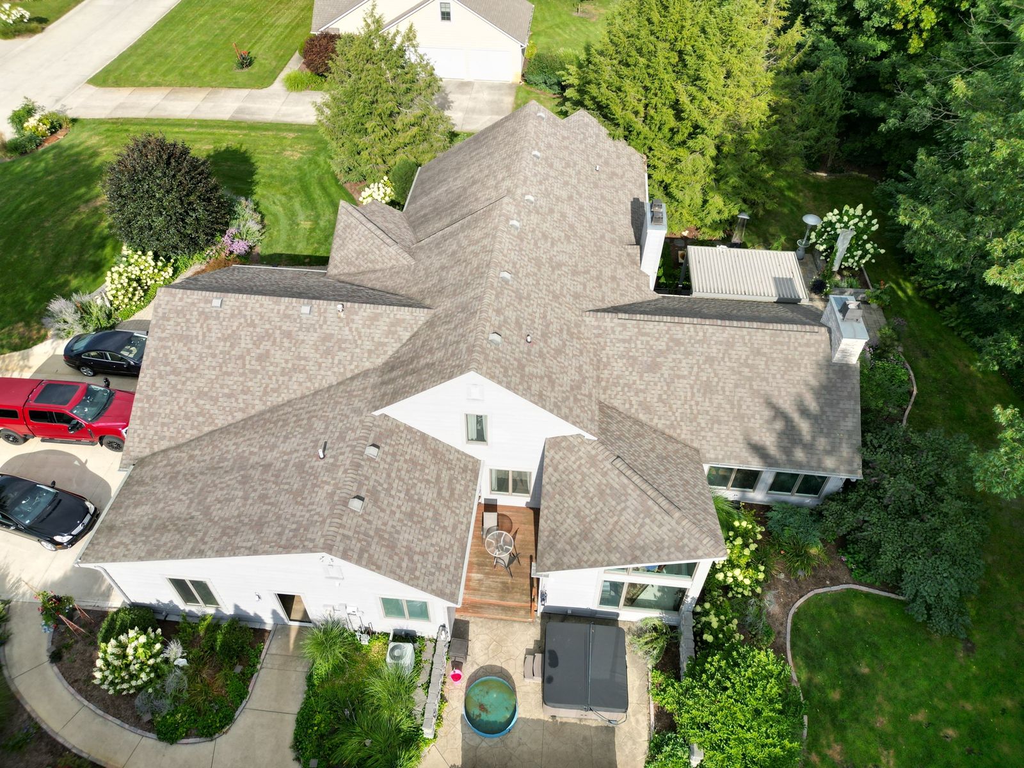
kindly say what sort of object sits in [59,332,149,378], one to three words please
car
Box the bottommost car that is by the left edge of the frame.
[0,479,100,553]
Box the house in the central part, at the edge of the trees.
[71,100,871,645]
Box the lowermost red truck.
[0,377,135,451]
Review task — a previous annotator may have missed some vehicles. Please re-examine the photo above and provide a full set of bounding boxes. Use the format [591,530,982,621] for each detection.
[59,332,149,378]
[0,377,135,451]
[0,479,100,553]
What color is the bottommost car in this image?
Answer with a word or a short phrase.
black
